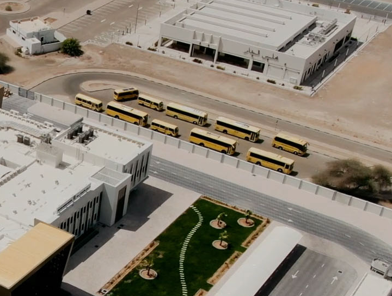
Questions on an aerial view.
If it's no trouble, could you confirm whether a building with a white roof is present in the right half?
Yes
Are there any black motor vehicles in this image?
No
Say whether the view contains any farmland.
No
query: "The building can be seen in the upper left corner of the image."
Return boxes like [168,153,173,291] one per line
[7,14,60,54]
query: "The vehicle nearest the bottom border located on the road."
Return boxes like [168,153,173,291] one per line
[248,145,298,172]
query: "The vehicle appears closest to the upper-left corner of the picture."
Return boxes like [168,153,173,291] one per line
[77,93,105,110]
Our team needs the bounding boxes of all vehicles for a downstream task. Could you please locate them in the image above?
[77,93,105,110]
[150,116,182,135]
[272,132,312,155]
[138,93,165,109]
[191,127,240,153]
[119,87,149,99]
[215,115,263,141]
[167,101,211,125]
[248,145,298,172]
[107,101,151,125]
